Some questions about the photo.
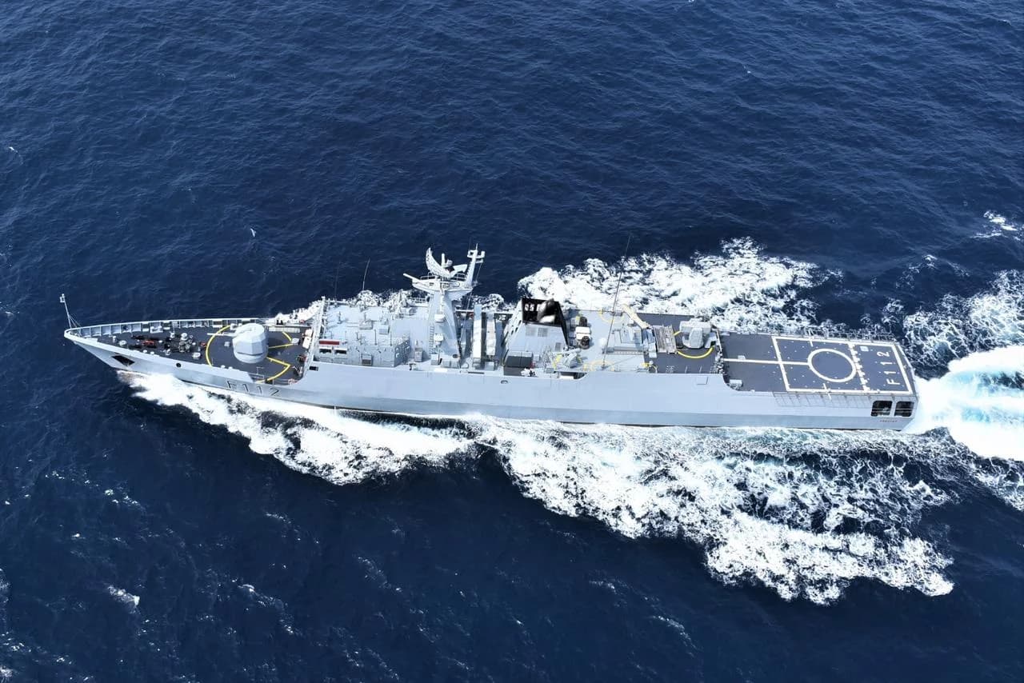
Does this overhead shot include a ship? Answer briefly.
Yes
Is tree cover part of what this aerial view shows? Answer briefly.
No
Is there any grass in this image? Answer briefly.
No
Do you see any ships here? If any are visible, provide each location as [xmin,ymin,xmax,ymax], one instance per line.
[60,234,918,428]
